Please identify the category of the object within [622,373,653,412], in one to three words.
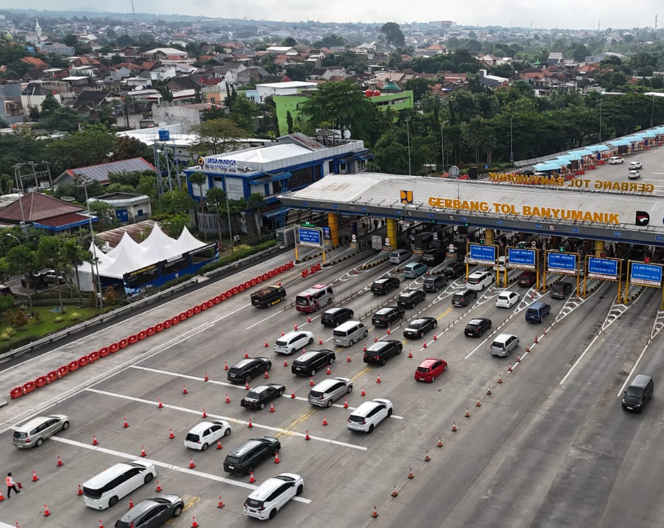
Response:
car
